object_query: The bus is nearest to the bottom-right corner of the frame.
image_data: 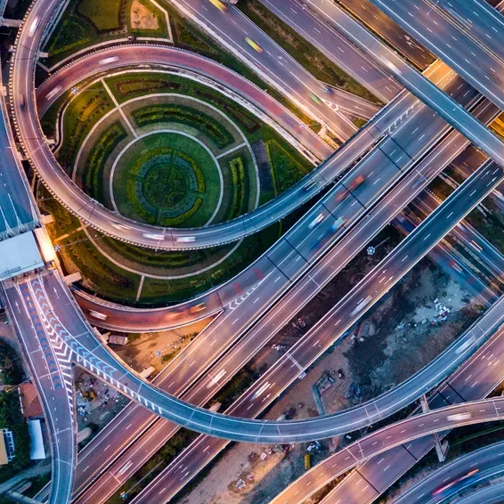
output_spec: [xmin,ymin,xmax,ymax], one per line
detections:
[441,474,466,494]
